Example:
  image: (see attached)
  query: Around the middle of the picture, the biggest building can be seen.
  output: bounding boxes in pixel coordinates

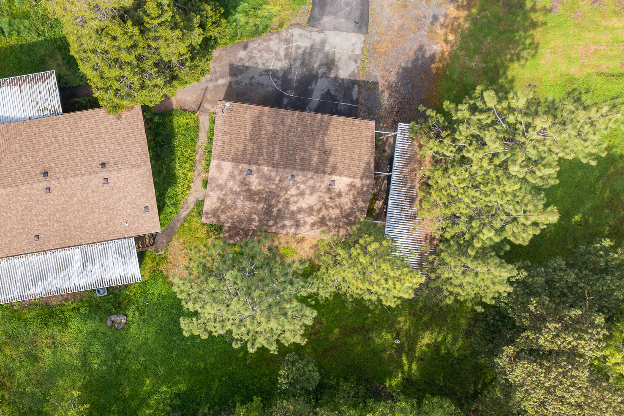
[201,99,377,249]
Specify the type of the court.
basketball court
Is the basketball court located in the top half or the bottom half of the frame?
top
